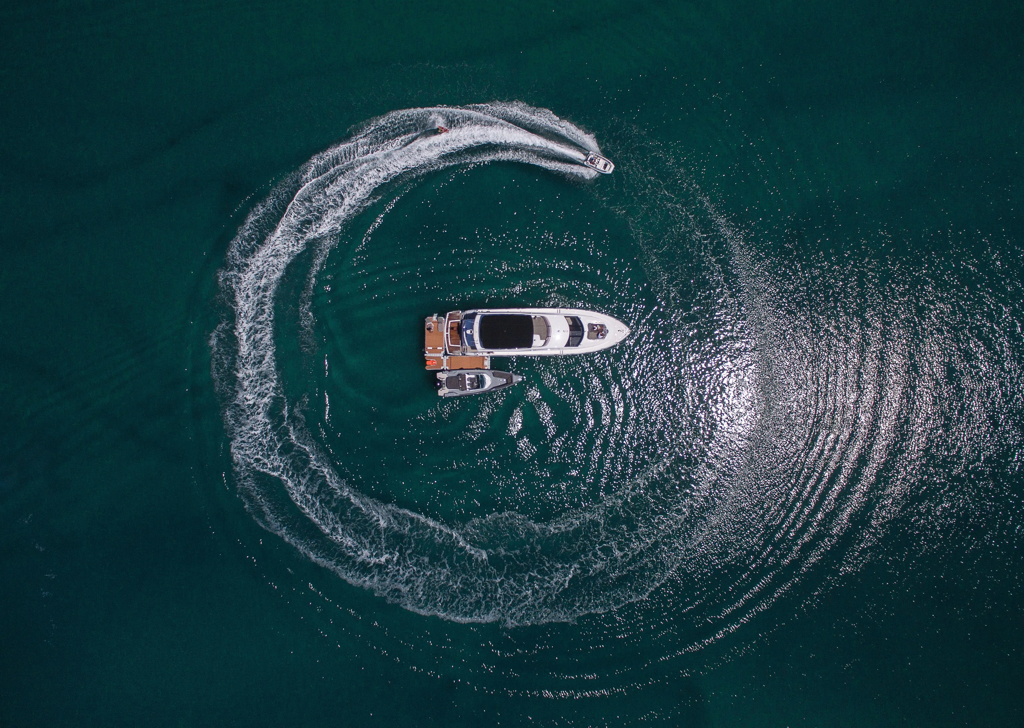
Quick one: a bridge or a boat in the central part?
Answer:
boat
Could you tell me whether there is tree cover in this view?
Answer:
No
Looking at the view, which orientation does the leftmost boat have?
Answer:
from side to side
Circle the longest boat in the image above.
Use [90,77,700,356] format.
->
[444,307,636,356]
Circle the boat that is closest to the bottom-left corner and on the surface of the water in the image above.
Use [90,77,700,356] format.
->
[435,369,522,397]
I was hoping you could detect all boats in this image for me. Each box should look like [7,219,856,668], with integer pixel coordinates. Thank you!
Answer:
[584,151,615,174]
[435,369,522,397]
[444,307,636,356]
